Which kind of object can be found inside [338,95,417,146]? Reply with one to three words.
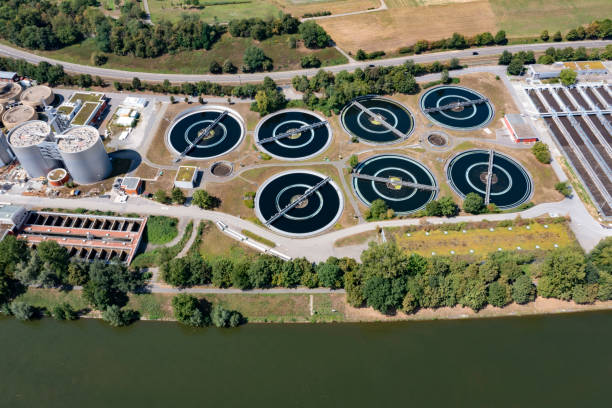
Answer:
storage tank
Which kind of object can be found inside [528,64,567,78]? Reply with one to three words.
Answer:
building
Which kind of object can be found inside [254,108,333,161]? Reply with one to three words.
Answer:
storage tank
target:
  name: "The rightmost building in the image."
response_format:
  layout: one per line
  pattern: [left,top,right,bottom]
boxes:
[564,62,606,76]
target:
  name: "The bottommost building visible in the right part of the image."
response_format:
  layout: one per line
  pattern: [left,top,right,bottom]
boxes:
[504,113,536,143]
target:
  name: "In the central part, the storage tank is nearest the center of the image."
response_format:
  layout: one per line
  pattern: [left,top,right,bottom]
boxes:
[255,170,344,236]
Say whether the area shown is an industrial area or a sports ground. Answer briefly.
industrial area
